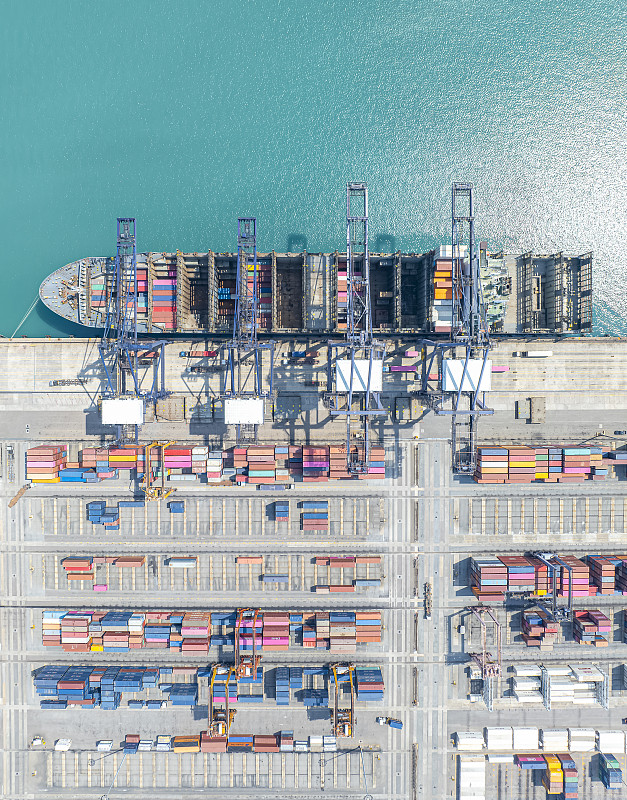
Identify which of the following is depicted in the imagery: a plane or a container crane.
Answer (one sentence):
There is a container crane in the scene.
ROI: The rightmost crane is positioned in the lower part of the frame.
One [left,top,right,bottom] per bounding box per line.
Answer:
[533,554,574,625]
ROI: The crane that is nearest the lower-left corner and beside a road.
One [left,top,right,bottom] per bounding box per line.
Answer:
[207,662,240,744]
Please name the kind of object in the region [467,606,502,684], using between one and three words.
crane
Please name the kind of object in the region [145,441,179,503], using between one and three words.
crane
